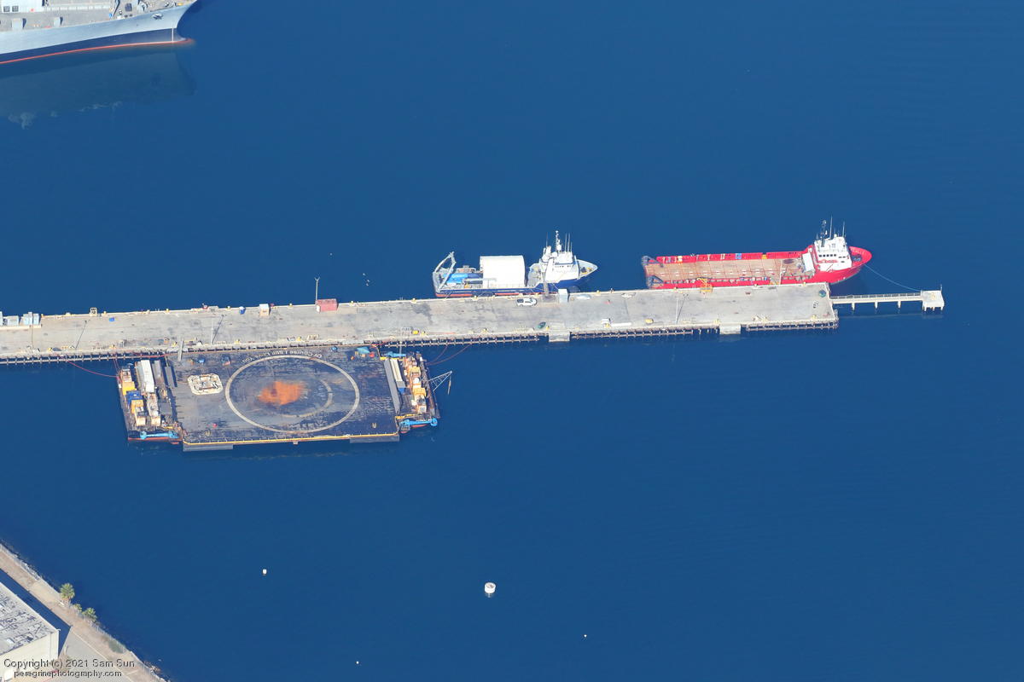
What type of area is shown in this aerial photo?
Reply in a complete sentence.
It's a port.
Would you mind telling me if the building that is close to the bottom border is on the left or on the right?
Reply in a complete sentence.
The building that is close to the bottom border sits on the left side.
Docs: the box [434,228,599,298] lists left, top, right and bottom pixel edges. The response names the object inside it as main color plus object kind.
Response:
white ship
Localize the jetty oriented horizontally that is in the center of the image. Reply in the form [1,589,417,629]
[0,283,841,367]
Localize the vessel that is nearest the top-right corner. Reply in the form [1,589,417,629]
[643,217,873,290]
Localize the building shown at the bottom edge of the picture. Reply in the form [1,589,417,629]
[0,580,60,681]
